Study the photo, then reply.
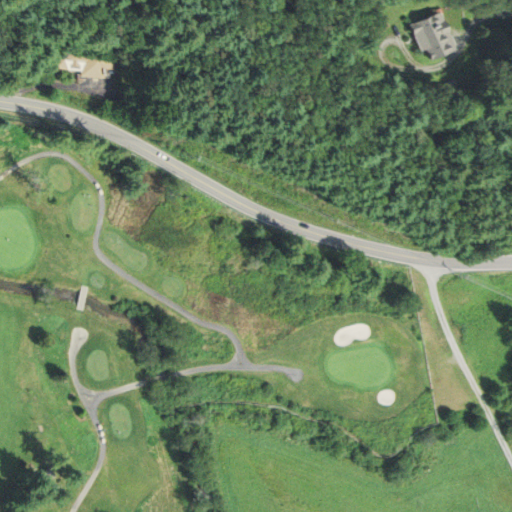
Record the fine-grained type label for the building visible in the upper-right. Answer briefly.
residential house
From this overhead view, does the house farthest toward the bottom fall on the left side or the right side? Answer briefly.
left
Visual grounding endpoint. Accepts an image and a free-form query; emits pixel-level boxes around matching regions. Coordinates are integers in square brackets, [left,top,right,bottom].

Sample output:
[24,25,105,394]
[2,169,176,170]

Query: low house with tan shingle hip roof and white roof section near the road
[58,53,114,80]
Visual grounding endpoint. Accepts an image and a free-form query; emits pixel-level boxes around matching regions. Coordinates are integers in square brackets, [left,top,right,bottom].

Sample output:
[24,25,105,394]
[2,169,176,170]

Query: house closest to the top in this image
[411,7,458,61]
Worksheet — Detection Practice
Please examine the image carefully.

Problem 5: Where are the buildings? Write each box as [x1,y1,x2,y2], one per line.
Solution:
[58,53,114,80]
[411,7,458,61]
